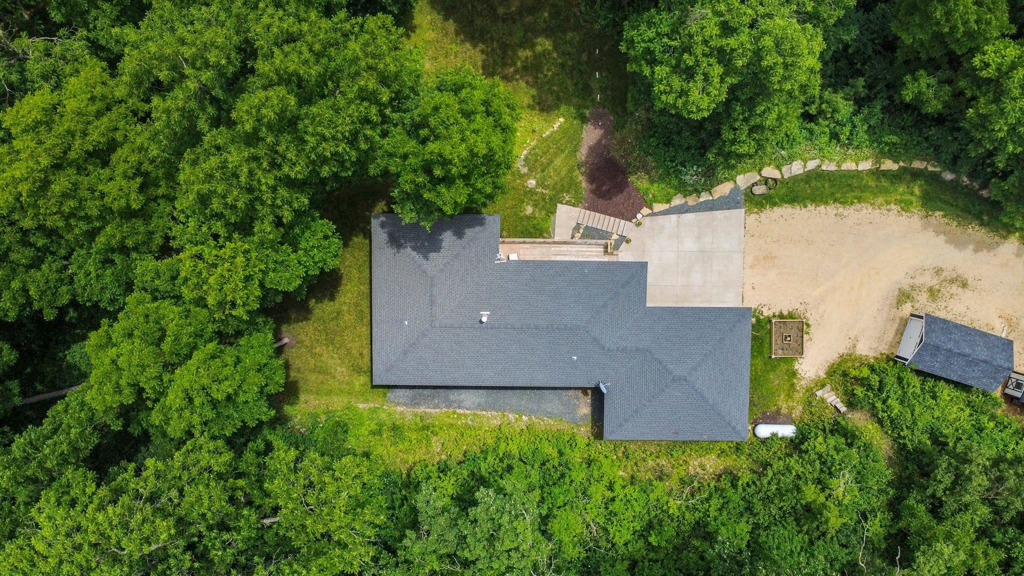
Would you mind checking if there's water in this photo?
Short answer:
No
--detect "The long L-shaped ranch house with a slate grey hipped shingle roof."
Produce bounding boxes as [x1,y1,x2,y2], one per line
[371,213,753,442]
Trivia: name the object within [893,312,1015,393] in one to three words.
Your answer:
shed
